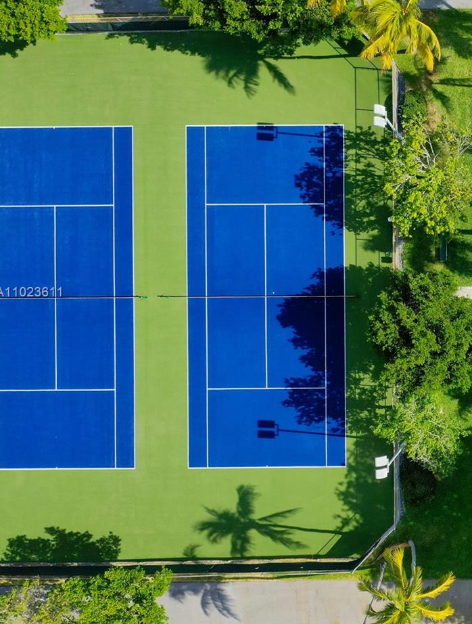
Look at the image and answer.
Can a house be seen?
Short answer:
No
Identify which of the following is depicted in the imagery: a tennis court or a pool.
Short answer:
tennis court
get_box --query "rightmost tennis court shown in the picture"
[186,125,346,469]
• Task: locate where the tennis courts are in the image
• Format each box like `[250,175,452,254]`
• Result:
[186,125,346,469]
[0,126,136,470]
